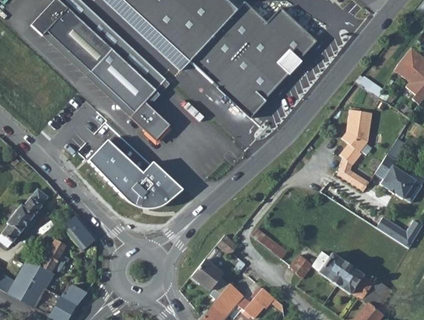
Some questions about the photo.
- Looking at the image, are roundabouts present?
Yes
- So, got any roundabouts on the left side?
Yes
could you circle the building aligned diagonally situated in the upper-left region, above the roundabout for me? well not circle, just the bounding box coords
[30,0,168,146]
